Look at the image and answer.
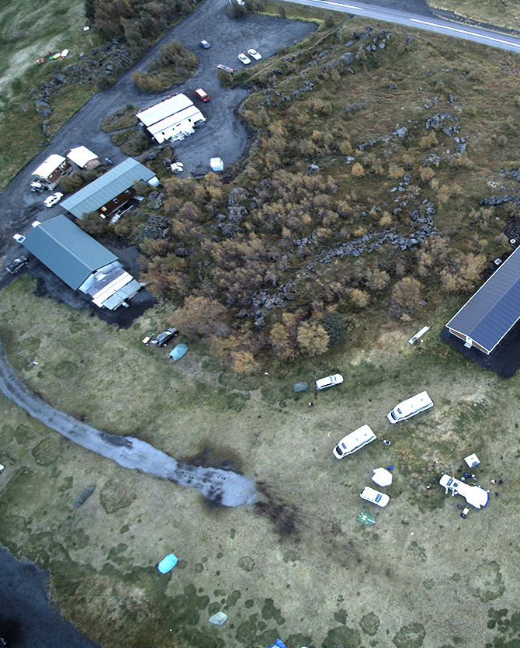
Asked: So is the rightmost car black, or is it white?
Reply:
white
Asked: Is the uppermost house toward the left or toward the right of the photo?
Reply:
left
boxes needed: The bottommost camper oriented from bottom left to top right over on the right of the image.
[334,420,379,462]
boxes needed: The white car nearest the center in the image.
[315,374,345,391]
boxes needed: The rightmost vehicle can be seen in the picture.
[439,476,468,497]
